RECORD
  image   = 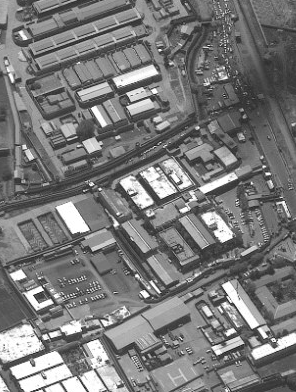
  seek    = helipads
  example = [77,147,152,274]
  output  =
[150,357,202,392]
